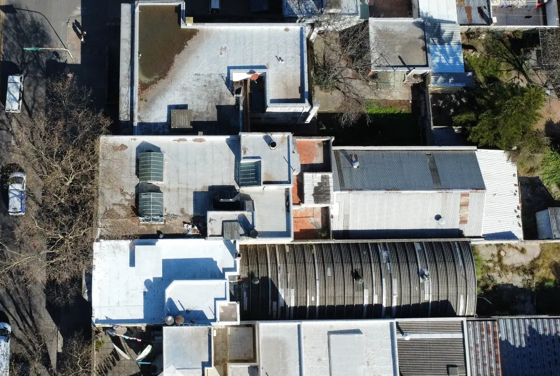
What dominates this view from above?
buildings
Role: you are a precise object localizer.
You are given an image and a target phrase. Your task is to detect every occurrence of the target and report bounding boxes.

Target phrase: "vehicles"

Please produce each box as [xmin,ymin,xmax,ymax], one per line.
[7,173,25,214]
[209,0,224,24]
[5,75,24,115]
[251,0,272,24]
[0,323,11,376]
